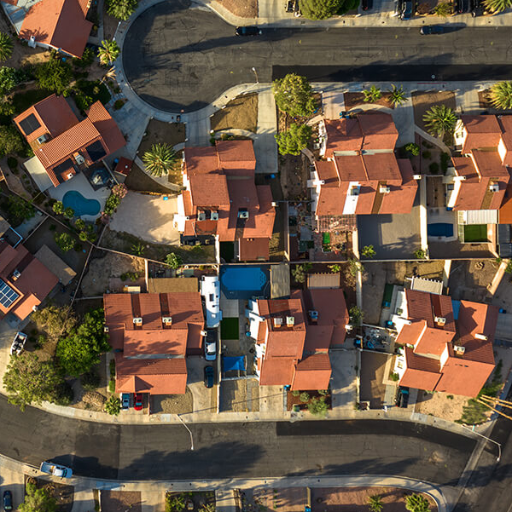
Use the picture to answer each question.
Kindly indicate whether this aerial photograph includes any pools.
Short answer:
Yes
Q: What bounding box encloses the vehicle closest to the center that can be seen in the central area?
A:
[202,271,222,327]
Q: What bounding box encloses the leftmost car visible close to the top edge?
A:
[234,24,261,38]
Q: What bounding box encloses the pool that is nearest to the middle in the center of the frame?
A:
[223,268,268,290]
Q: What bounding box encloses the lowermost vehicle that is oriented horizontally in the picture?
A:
[39,460,72,478]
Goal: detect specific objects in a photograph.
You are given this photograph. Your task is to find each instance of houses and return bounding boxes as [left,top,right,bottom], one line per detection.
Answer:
[1,0,97,58]
[305,114,422,232]
[386,276,499,398]
[248,273,353,391]
[0,217,76,322]
[14,93,126,191]
[439,115,512,224]
[103,276,207,400]
[178,139,277,260]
